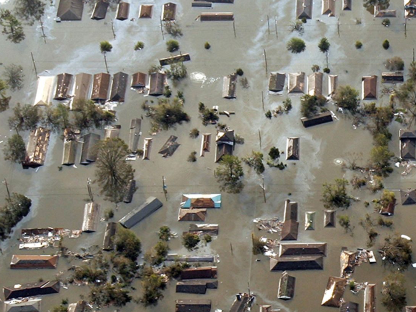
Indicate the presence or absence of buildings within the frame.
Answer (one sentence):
Yes, the frame does contain a building.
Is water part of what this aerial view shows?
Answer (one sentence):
Yes, water shows up in the scene.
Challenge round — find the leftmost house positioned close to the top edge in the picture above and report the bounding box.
[55,0,84,20]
